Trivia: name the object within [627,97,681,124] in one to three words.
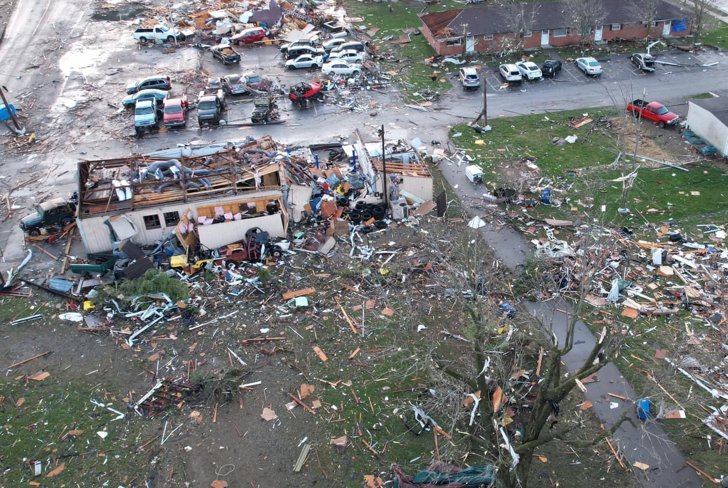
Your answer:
truck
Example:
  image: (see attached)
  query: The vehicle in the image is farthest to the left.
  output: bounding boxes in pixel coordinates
[22,190,76,230]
